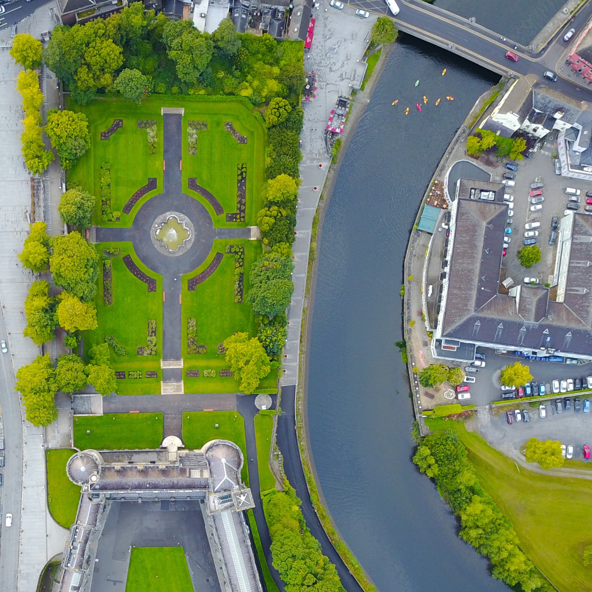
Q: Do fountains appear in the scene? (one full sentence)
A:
Yes, a fountain appears in the view.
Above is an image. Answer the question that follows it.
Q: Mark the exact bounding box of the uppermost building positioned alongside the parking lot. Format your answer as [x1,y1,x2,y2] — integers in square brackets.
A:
[432,160,592,362]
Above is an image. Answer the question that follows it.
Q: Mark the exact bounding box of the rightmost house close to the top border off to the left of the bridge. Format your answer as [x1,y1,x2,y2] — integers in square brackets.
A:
[287,0,318,50]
